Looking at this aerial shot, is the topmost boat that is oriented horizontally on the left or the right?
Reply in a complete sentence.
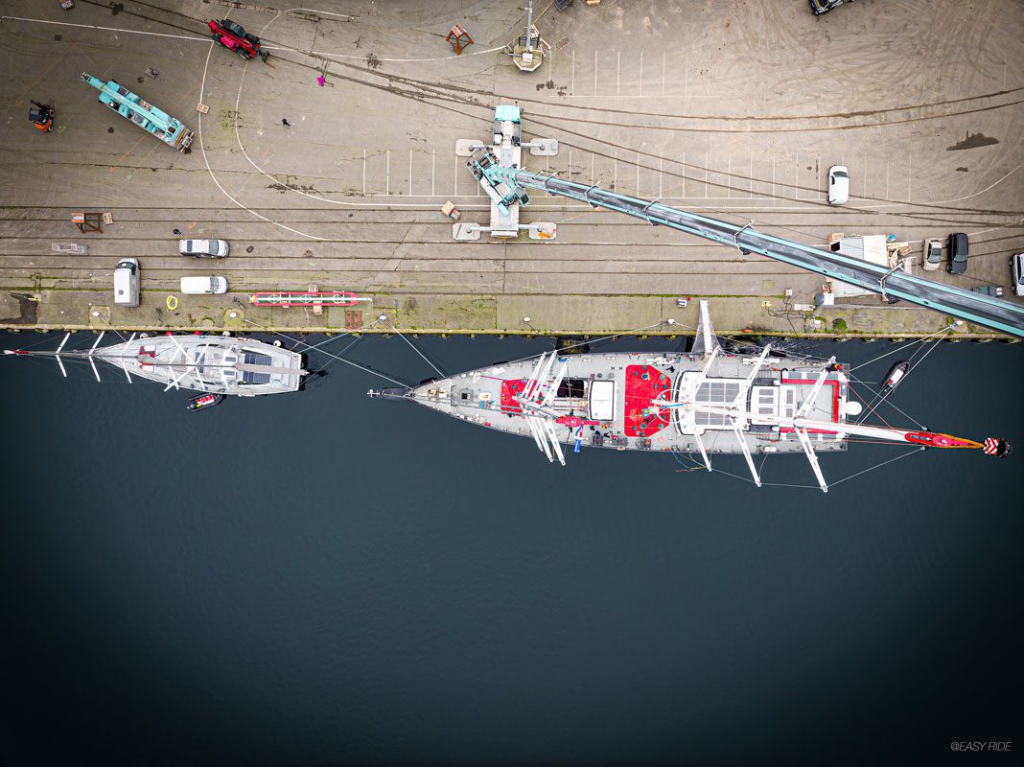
The topmost boat that is oriented horizontally sits on the left side.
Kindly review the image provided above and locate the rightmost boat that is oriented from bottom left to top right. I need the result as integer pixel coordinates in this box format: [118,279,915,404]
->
[881,359,912,396]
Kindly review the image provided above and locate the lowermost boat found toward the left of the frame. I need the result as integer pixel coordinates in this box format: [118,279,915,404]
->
[185,392,224,413]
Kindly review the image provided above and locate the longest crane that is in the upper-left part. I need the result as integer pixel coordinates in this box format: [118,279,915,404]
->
[78,66,196,159]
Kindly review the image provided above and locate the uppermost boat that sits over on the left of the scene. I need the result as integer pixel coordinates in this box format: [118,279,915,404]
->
[0,332,306,396]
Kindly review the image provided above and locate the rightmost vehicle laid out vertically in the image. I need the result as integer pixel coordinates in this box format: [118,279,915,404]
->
[1004,252,1024,297]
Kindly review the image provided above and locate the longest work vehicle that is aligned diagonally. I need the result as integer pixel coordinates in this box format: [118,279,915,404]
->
[207,14,276,69]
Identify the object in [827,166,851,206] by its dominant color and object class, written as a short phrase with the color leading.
white car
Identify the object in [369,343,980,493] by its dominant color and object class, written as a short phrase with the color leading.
white vessel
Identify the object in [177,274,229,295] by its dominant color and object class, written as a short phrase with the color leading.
white vehicle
